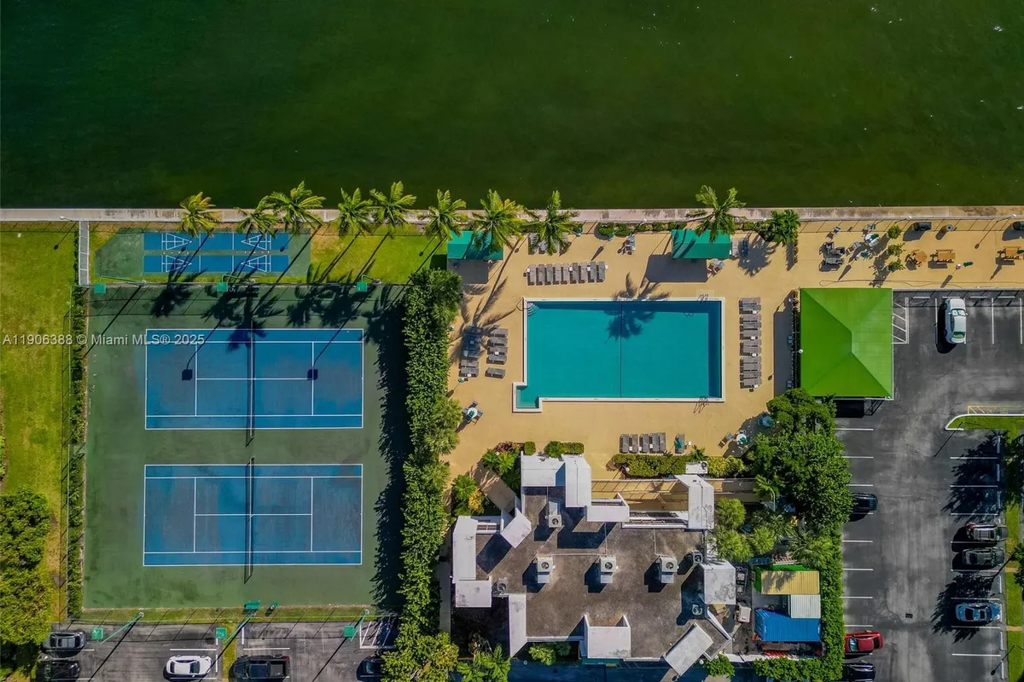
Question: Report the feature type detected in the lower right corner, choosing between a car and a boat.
car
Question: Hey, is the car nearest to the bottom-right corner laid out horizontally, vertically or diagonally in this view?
horizontally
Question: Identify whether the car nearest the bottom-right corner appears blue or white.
blue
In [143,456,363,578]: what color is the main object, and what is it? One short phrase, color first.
blue tennis court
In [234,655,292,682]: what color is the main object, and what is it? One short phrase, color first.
black truck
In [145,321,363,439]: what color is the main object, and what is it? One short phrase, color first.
blue tennis court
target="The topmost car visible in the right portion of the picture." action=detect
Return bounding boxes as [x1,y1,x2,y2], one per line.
[942,298,966,343]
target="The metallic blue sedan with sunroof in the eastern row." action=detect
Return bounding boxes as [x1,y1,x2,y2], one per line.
[953,601,999,623]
